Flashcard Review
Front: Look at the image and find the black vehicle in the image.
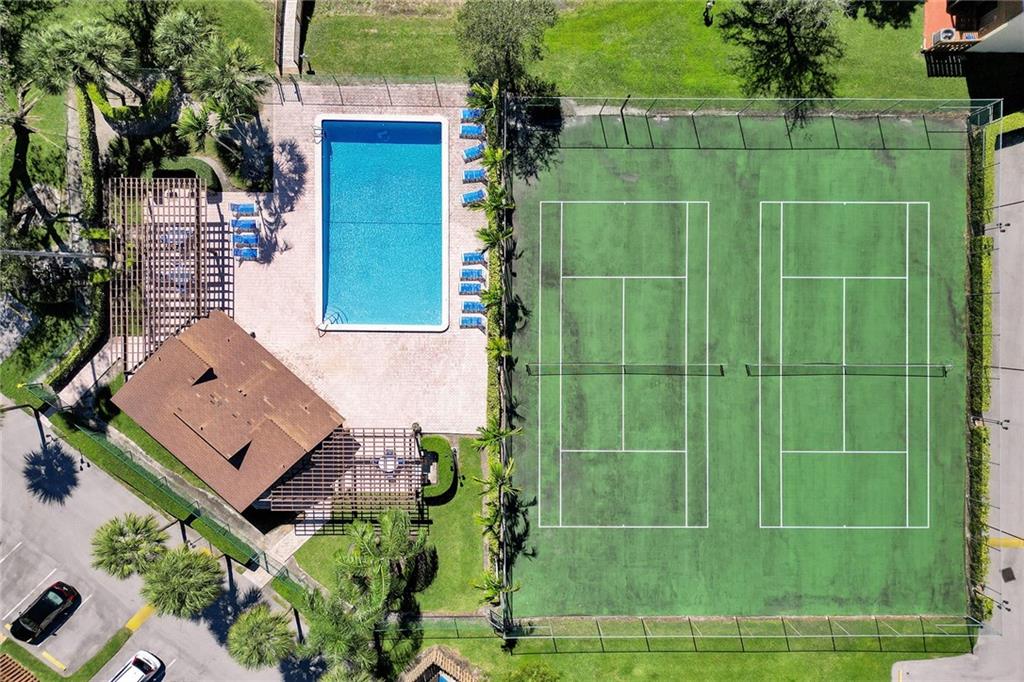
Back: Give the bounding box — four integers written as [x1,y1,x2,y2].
[8,579,77,649]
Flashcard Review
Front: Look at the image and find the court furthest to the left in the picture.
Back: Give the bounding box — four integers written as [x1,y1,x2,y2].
[513,113,734,616]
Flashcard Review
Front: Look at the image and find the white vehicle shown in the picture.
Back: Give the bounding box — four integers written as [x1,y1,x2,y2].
[108,649,160,682]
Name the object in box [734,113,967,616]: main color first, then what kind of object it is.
green tennis court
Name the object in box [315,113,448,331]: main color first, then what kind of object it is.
blue swimming pool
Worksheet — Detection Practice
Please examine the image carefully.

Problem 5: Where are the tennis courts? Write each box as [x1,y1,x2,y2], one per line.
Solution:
[734,113,967,616]
[513,113,734,616]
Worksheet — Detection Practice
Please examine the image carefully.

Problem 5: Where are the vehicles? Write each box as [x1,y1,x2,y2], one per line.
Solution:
[108,649,160,682]
[8,579,77,649]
